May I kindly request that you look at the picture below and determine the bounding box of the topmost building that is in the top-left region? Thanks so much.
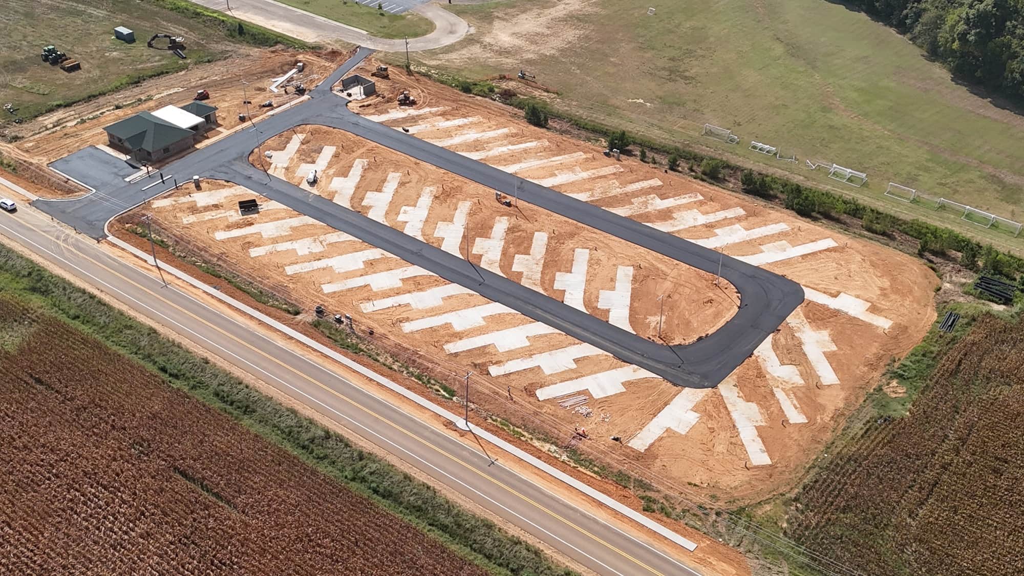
[101,100,219,162]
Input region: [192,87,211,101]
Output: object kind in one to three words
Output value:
work vehicle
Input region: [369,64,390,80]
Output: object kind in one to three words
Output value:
work vehicle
